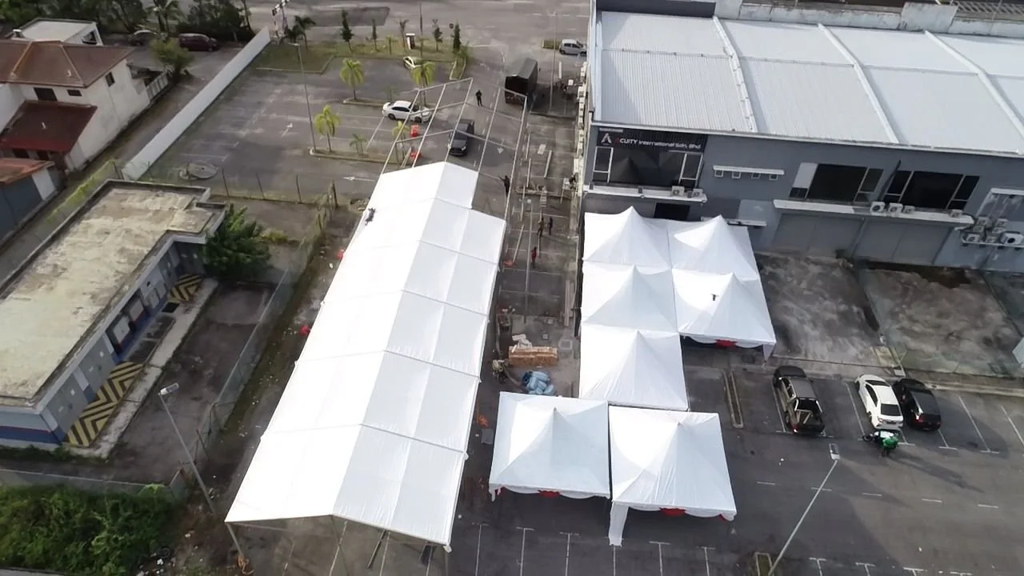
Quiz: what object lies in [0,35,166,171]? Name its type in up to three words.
house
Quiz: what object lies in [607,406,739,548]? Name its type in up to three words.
tent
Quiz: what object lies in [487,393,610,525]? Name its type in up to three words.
tent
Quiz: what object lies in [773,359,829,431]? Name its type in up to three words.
truck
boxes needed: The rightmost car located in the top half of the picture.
[561,39,586,56]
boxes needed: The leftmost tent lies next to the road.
[217,76,526,576]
